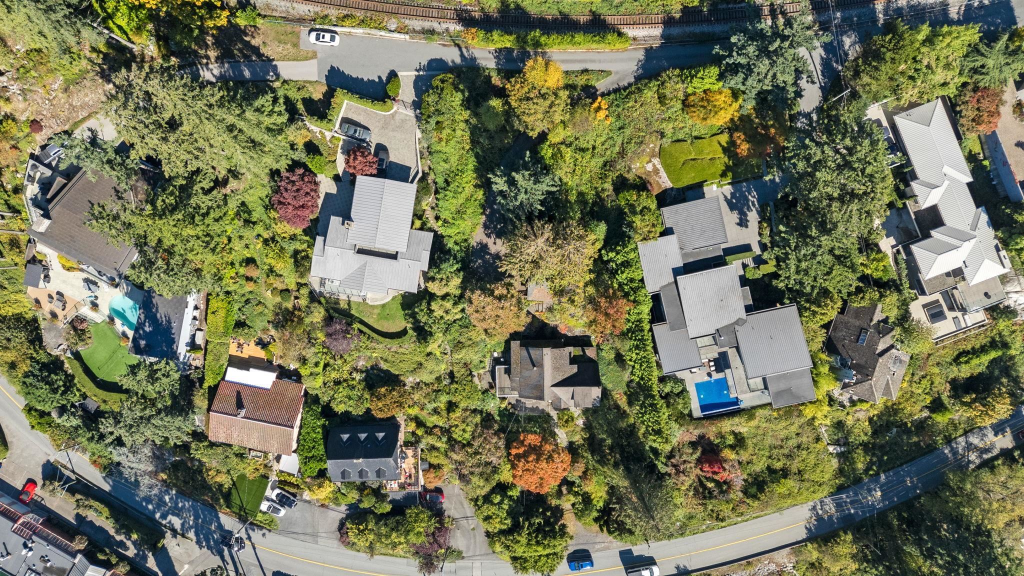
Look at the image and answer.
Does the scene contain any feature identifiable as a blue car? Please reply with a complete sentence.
Yes, the frame does contain a blue car.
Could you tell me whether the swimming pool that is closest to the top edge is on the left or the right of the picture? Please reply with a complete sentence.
The swimming pool that is closest to the top edge sits on the left side.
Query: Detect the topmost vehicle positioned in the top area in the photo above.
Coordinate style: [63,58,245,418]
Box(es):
[308,29,341,47]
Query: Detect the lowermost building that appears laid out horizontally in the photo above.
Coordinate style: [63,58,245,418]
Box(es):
[389,492,418,505]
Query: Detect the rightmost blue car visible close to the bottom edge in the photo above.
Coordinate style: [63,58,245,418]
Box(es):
[568,557,596,574]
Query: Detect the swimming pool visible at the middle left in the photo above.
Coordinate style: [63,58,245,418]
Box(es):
[108,294,141,332]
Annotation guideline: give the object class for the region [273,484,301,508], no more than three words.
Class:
car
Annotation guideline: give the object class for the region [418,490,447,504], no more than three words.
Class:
car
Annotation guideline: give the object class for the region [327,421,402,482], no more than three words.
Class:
house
